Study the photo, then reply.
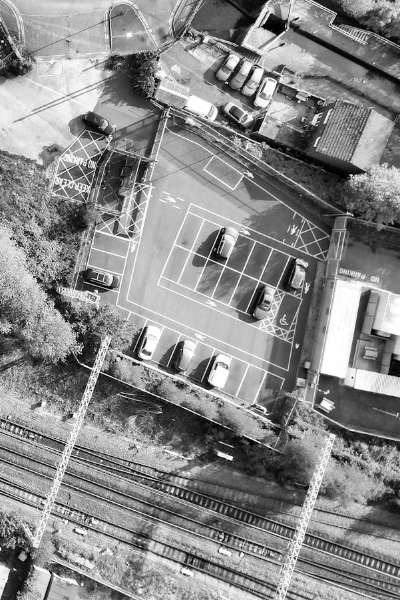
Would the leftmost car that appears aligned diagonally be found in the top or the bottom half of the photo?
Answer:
top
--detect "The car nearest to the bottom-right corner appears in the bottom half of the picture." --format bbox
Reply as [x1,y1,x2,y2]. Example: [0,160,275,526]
[206,352,231,389]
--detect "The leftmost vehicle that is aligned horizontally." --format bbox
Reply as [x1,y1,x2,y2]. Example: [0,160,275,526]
[82,269,119,287]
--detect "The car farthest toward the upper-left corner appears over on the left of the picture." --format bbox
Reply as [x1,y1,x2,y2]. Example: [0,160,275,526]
[80,108,117,138]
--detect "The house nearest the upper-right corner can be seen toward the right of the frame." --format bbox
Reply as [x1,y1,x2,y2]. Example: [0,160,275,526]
[296,98,397,171]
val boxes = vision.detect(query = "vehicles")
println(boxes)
[137,324,159,359]
[175,338,195,371]
[82,269,119,287]
[221,101,254,126]
[214,225,239,260]
[214,52,239,84]
[228,59,254,91]
[250,74,279,110]
[286,258,309,290]
[183,93,217,123]
[80,108,117,138]
[251,284,276,320]
[206,352,231,389]
[240,64,265,98]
